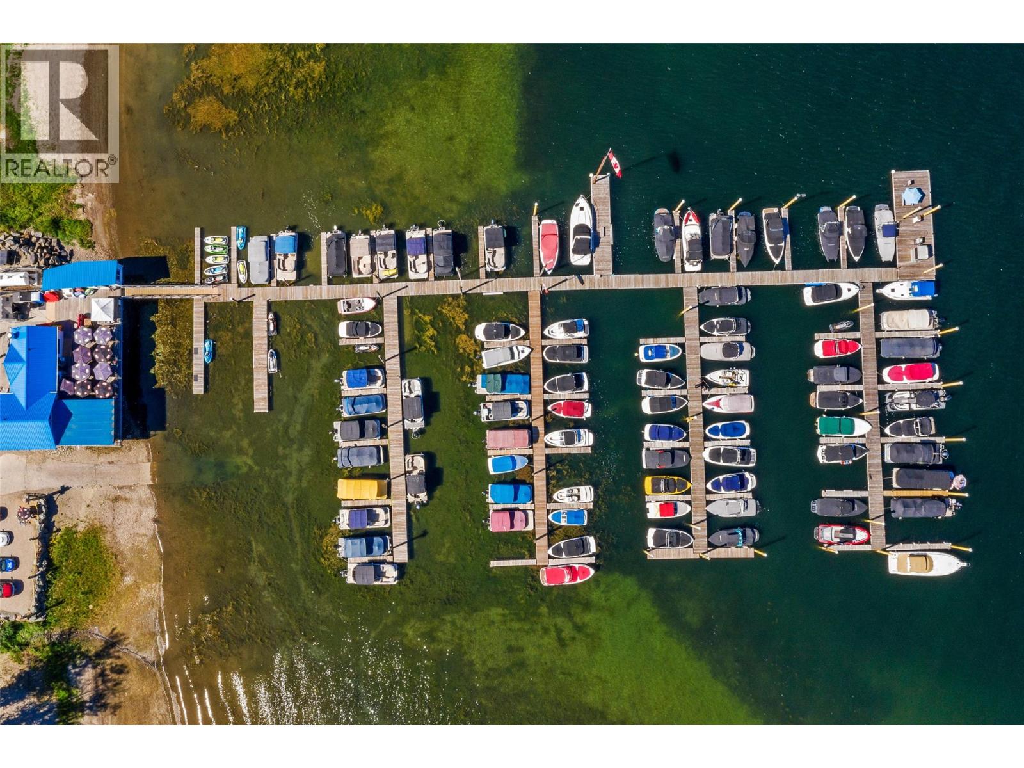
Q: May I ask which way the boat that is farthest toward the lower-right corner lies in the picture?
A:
from side to side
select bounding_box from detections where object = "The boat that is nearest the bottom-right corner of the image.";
[885,551,972,576]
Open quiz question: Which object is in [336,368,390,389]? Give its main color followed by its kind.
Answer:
blue boat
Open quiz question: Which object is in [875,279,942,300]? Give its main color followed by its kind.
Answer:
white boat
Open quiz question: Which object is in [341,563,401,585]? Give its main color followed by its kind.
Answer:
gray boat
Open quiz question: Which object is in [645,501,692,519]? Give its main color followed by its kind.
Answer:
white boat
